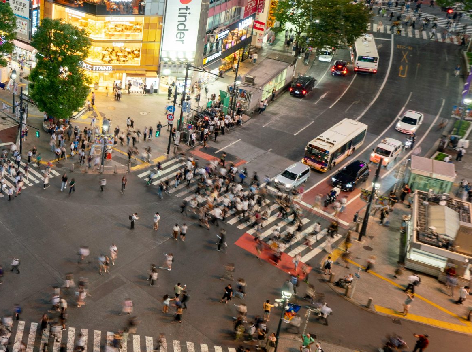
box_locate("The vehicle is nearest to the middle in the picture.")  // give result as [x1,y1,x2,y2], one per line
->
[278,159,316,192]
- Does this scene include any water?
No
